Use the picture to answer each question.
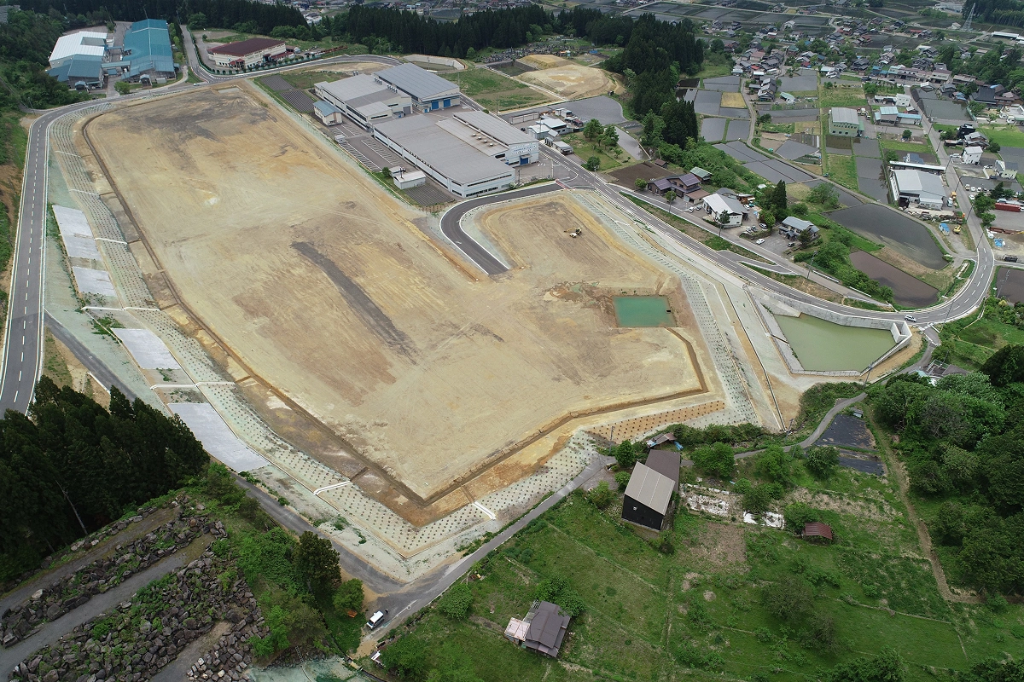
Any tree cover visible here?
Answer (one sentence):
Yes, some tree cover is visible.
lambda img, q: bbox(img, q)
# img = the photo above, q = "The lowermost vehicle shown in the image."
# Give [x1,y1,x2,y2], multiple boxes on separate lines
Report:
[365,608,385,629]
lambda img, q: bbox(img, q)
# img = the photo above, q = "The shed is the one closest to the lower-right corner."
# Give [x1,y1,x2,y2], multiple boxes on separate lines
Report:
[800,522,833,549]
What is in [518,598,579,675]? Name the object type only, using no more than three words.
house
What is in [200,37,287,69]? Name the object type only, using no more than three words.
building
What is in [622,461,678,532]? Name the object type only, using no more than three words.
barn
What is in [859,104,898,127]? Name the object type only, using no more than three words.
building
